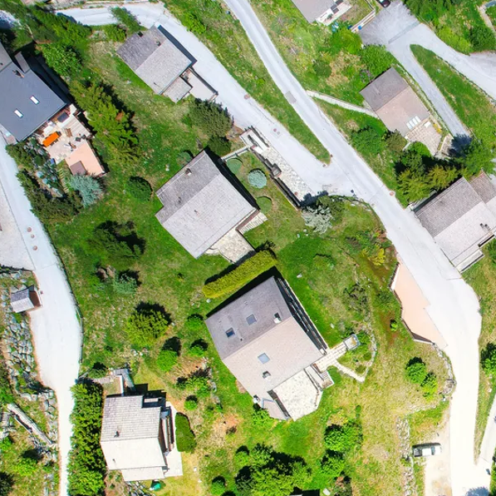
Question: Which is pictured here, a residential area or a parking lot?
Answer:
residential area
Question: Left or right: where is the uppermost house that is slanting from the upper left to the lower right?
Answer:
left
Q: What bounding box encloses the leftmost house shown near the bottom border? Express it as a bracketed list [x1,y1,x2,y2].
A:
[99,374,187,481]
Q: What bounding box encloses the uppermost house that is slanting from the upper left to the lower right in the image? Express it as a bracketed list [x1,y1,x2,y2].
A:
[120,25,222,110]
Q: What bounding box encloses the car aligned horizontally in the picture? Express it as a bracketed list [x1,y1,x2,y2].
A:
[413,443,442,456]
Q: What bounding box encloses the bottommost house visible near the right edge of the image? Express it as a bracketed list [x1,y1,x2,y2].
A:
[408,171,496,273]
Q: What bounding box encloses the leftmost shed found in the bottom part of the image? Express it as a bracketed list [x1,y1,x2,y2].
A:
[9,287,50,312]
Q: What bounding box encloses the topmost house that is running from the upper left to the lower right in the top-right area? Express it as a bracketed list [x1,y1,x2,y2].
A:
[360,68,455,160]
